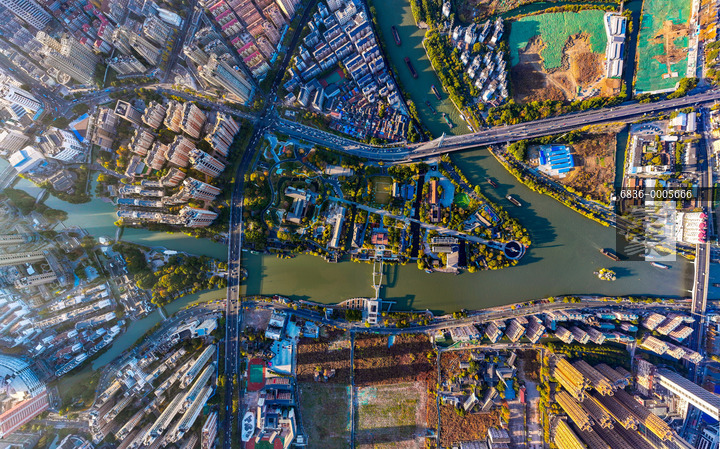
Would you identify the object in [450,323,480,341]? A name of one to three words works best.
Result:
building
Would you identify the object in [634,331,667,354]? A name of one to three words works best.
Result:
building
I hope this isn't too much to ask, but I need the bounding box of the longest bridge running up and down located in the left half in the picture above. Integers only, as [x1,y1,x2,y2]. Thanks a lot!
[226,200,242,386]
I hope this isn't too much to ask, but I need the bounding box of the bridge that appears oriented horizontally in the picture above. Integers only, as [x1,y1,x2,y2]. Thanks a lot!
[263,84,720,160]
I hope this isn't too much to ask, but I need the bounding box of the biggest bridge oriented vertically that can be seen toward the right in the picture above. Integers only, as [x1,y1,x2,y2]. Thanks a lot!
[689,233,710,347]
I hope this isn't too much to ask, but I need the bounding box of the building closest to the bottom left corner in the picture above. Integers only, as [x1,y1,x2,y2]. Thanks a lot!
[0,384,67,434]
